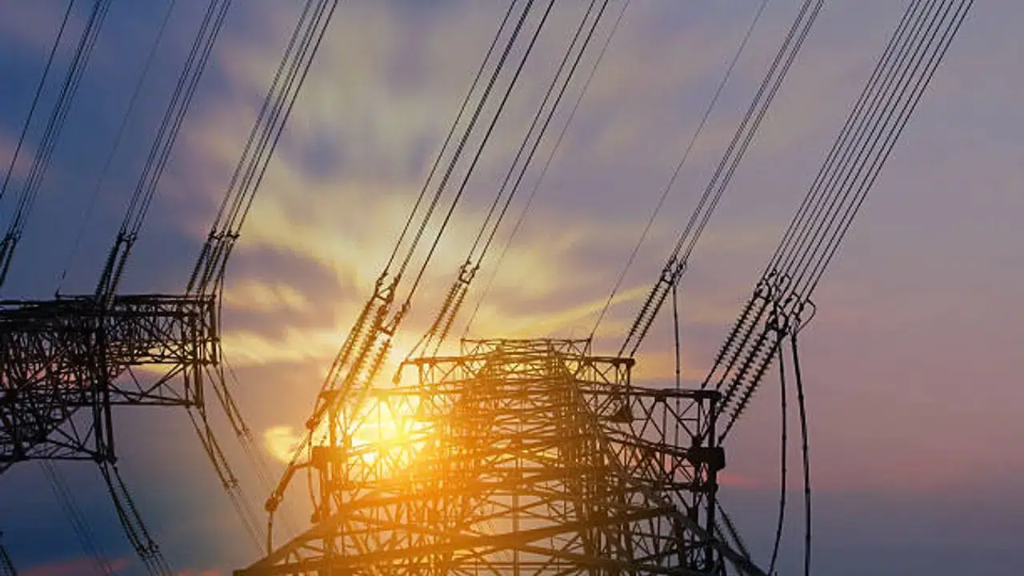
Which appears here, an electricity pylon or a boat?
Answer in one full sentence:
I can see an electricity pylon in this picture.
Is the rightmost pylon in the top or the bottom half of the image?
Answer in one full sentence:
The bottom half of the photo is where the rightmost pylon is.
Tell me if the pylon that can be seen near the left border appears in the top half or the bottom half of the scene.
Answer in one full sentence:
You can find the pylon that can be seen near the left border in the bottom half.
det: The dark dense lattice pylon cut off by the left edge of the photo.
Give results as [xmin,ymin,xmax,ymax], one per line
[0,294,222,487]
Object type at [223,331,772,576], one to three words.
pylon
